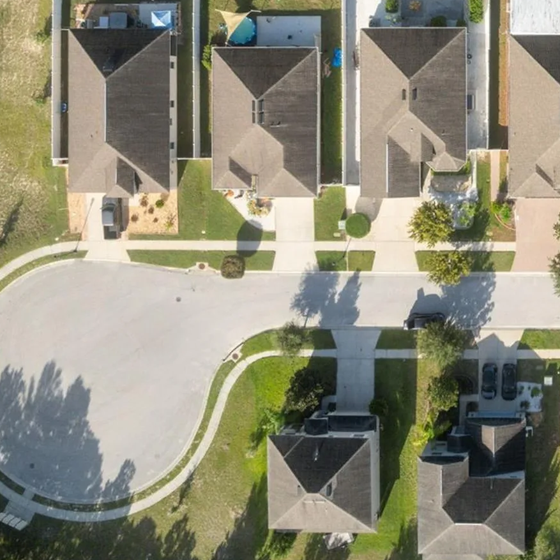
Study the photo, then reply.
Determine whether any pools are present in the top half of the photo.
Yes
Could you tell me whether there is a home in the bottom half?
Yes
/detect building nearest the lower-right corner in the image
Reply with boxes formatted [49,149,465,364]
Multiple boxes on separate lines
[418,413,526,560]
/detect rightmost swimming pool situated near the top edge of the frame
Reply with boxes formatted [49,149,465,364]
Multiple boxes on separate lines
[230,17,260,47]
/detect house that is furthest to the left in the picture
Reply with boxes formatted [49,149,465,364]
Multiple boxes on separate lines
[67,29,181,200]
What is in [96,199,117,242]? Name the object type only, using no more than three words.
truck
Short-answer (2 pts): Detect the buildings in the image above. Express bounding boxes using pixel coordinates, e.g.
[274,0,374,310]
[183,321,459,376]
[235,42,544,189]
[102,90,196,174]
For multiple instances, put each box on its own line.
[212,48,323,197]
[509,0,560,199]
[360,28,467,199]
[267,409,381,534]
[67,29,181,200]
[418,413,526,560]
